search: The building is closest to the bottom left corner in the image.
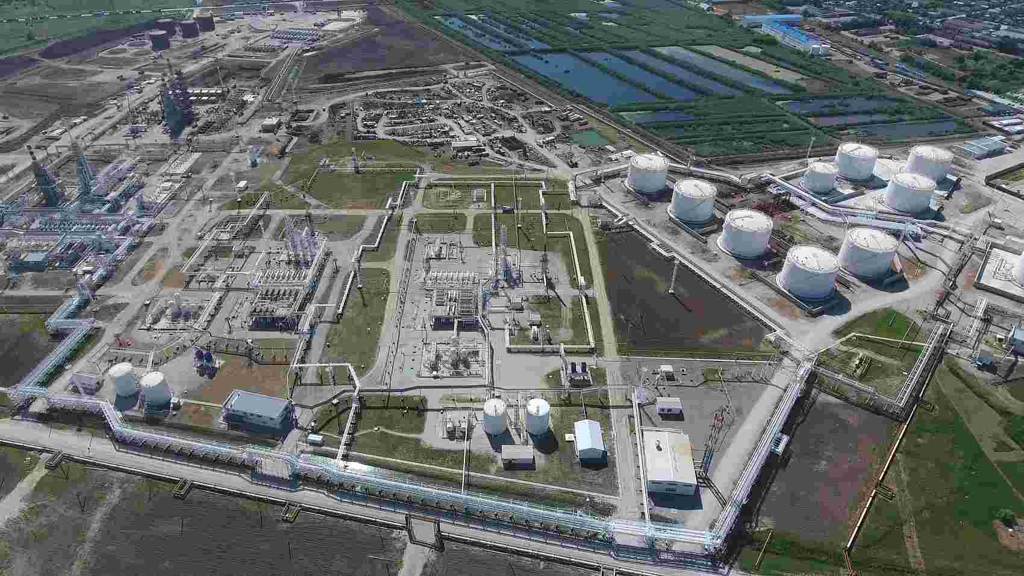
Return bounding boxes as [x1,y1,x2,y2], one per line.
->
[65,365,110,395]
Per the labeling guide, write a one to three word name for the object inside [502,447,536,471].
shed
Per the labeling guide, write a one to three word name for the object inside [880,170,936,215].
storage tank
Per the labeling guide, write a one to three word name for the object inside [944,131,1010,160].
building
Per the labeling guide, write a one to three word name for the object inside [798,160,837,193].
storage tank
